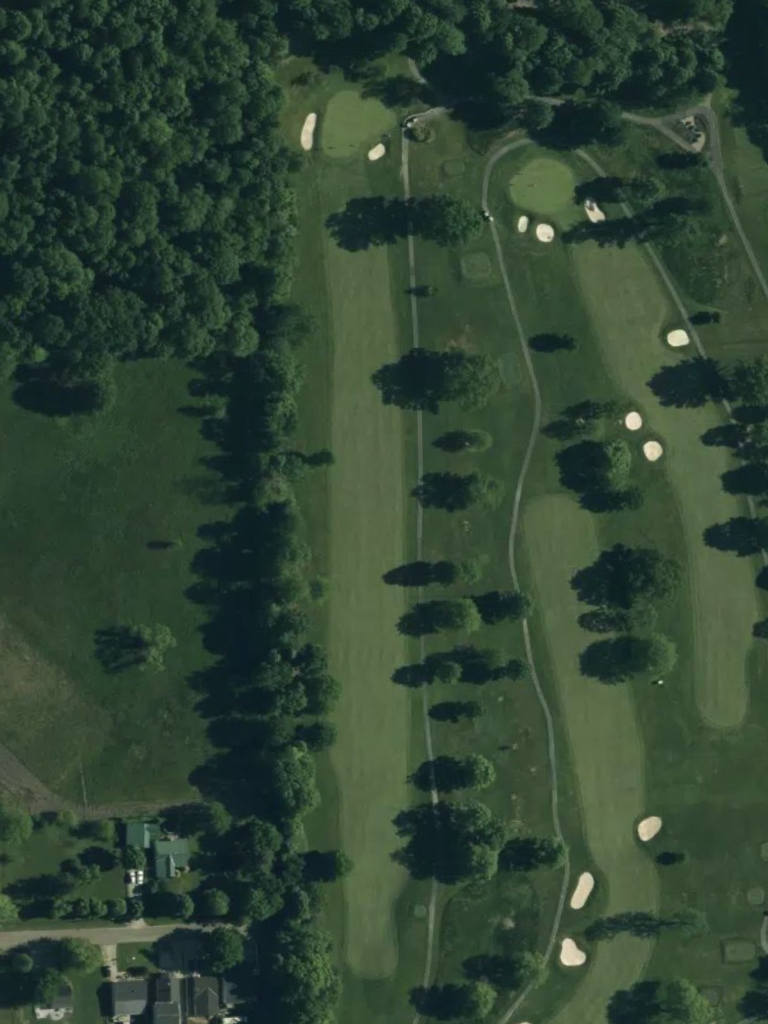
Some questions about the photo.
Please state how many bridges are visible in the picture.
0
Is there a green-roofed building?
Yes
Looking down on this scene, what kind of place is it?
golf course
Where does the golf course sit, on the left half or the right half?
right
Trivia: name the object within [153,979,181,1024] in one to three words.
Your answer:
house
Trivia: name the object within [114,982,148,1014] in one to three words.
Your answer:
house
